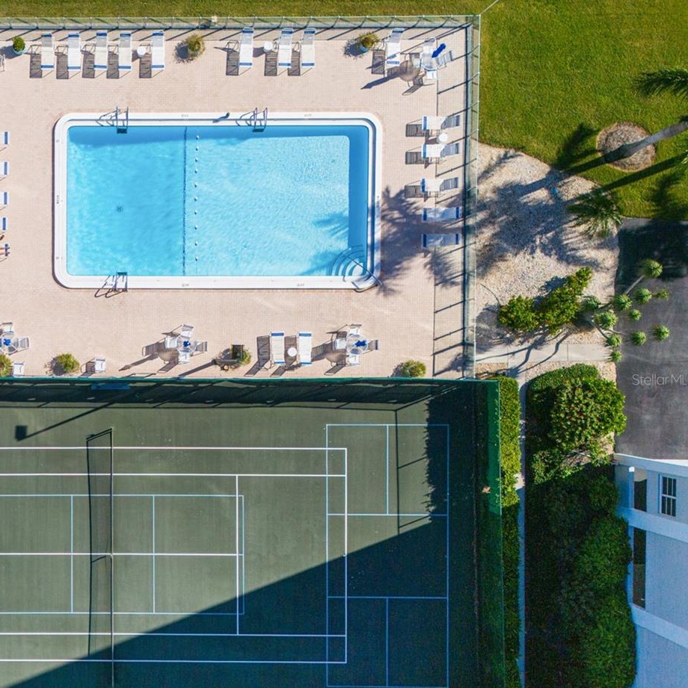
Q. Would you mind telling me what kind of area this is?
sports ground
